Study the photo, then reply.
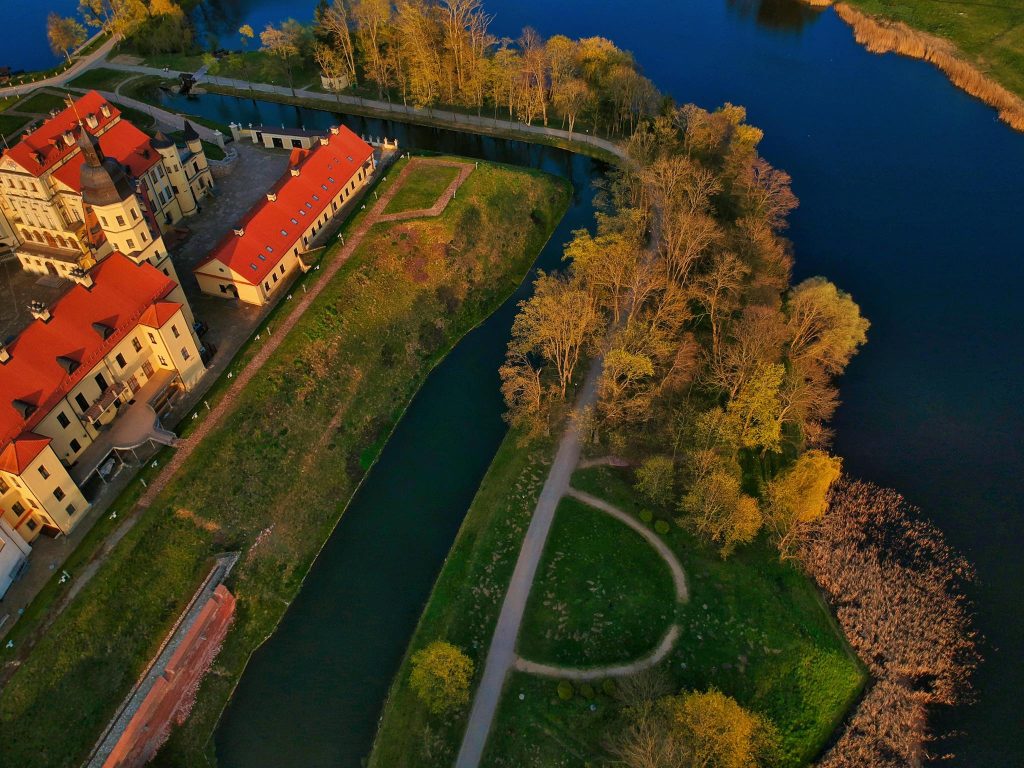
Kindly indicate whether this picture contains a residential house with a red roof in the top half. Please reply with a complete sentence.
Yes, a residential house with a red roof can be seen in the top half.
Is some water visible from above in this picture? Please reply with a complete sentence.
Yes, there's water in this view.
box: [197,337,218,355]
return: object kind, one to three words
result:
car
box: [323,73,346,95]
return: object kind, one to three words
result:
building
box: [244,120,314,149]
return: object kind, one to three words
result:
shed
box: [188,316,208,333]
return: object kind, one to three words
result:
car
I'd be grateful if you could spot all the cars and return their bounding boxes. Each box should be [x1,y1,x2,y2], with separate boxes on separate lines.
[188,316,208,333]
[197,337,218,355]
